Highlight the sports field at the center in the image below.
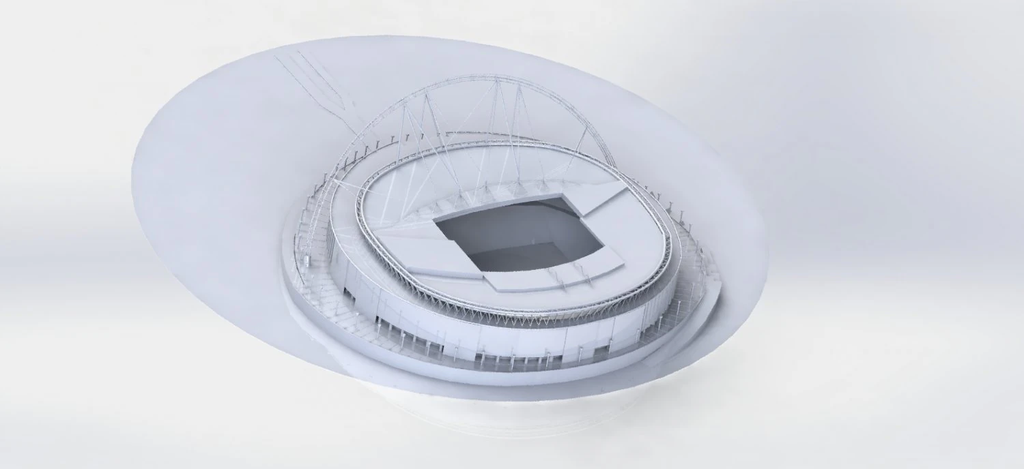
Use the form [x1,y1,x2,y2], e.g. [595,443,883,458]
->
[468,243,569,272]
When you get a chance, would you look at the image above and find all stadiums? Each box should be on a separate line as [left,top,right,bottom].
[323,131,683,364]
